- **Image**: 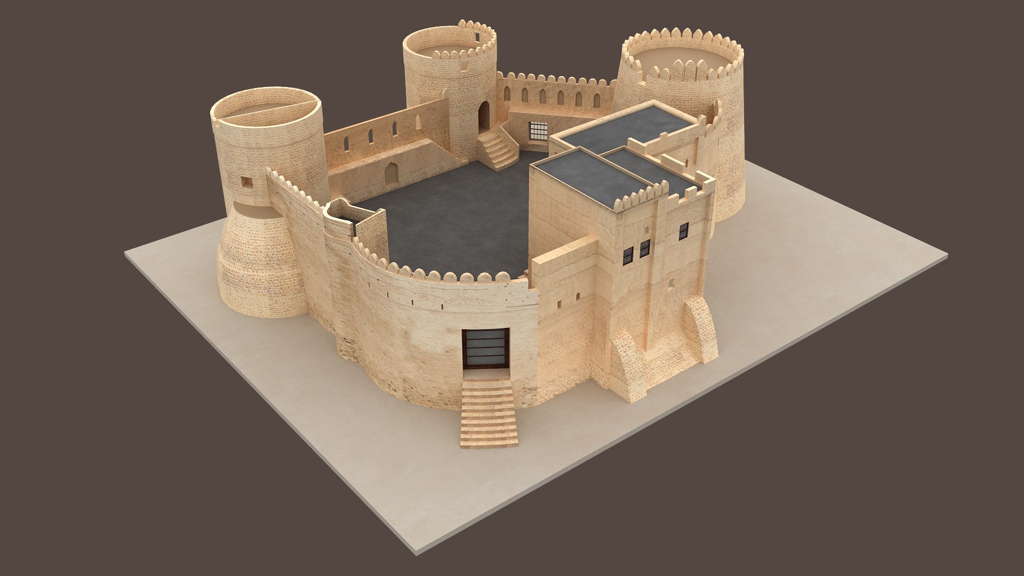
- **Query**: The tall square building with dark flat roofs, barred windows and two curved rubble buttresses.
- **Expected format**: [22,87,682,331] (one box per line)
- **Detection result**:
[528,138,718,403]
